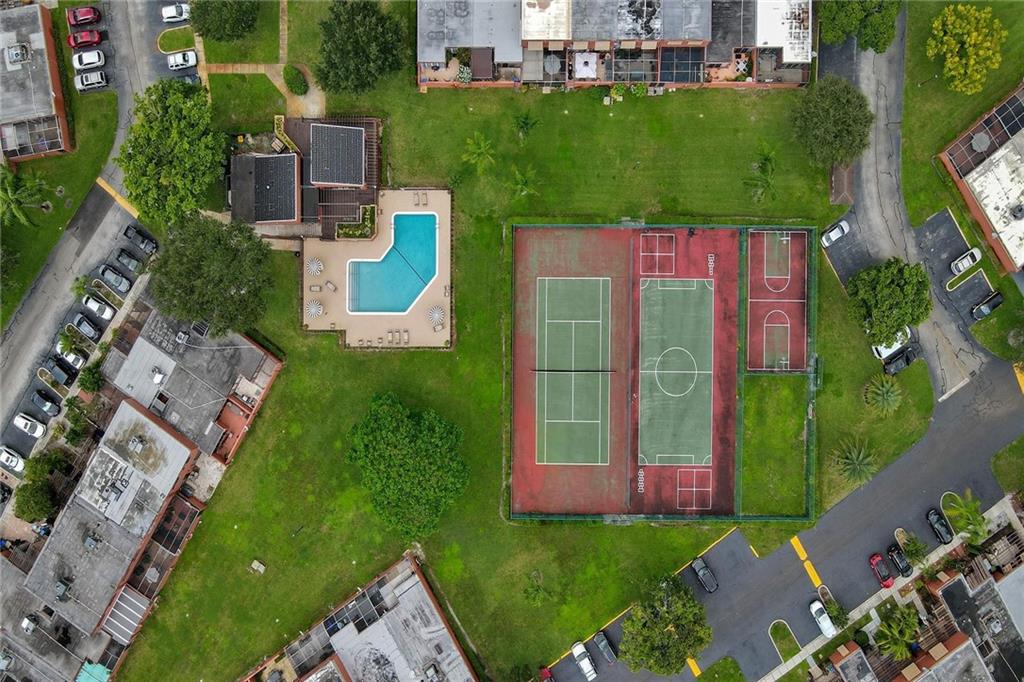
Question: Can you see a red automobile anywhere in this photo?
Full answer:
Yes, the photo shows a red automobile.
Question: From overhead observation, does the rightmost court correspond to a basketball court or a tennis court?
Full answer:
Specifically, the rightmost court is a basketball court.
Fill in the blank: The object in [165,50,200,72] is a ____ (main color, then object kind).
white car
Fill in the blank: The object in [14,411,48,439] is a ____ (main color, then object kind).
white car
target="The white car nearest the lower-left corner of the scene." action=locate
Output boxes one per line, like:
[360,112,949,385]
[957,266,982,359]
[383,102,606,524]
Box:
[0,445,27,473]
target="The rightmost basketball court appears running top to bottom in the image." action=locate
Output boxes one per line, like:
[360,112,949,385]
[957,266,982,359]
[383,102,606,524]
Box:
[745,226,815,374]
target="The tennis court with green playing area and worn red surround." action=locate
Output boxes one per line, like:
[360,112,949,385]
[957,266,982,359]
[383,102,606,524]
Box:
[511,227,632,515]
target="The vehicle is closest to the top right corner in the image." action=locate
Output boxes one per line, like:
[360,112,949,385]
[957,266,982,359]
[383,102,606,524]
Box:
[949,247,981,274]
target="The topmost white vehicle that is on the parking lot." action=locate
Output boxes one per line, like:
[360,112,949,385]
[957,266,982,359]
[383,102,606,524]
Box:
[159,2,194,24]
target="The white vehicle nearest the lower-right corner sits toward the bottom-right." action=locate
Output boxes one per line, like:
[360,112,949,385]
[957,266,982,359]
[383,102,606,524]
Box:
[810,599,837,638]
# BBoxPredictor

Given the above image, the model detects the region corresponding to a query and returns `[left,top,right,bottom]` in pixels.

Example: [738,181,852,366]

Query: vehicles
[692,557,720,594]
[869,334,908,361]
[886,543,913,578]
[67,5,103,27]
[71,311,104,342]
[949,247,981,274]
[14,411,48,439]
[165,50,200,72]
[121,222,158,255]
[68,31,103,50]
[0,445,27,473]
[594,630,618,664]
[72,50,107,70]
[0,483,15,507]
[882,347,918,376]
[159,2,194,24]
[573,639,598,681]
[869,553,894,587]
[115,246,147,276]
[73,70,109,91]
[30,388,63,418]
[818,220,850,248]
[54,343,87,371]
[82,293,116,322]
[810,599,837,638]
[925,508,954,544]
[98,263,132,294]
[170,68,204,88]
[40,355,77,390]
